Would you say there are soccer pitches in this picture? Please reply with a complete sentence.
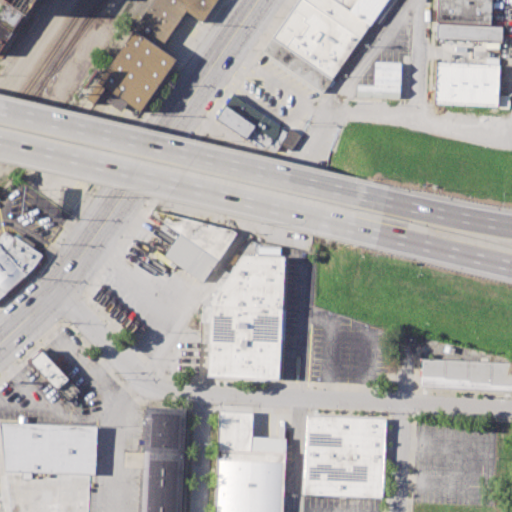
No, this view has no soccer pitch in it.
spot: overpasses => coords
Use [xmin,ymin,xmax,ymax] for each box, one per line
[0,95,512,284]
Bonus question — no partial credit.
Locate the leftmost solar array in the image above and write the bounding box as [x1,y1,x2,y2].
[214,318,234,341]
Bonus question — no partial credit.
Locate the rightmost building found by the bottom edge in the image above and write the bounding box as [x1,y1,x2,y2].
[304,416,387,499]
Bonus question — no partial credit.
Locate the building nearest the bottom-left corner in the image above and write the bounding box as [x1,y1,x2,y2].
[1,424,98,512]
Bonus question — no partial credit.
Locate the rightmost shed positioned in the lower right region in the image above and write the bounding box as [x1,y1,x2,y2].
[422,360,512,392]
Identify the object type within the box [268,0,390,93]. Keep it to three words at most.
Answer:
building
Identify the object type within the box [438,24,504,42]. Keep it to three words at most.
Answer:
shed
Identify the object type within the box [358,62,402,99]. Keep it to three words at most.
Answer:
building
